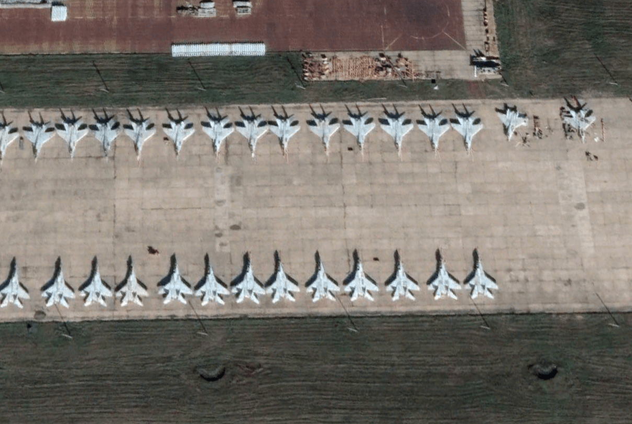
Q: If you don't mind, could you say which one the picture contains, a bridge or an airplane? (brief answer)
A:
airplane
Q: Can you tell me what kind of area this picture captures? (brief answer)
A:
parking lot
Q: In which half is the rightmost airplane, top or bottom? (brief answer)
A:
top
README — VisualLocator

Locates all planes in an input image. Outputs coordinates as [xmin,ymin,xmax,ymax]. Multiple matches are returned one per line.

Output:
[343,113,376,162]
[566,108,596,146]
[42,260,75,309]
[0,261,30,311]
[267,255,300,305]
[116,259,149,308]
[308,112,340,161]
[428,252,461,303]
[386,252,420,305]
[345,255,378,304]
[91,119,123,167]
[56,118,89,168]
[0,122,19,169]
[124,117,156,168]
[380,113,414,161]
[451,112,484,163]
[231,256,266,306]
[196,256,229,309]
[24,120,55,168]
[159,257,192,306]
[465,252,498,303]
[269,115,301,165]
[202,115,234,163]
[418,112,451,161]
[307,254,340,305]
[235,115,268,164]
[497,106,528,143]
[80,259,113,309]
[163,117,195,167]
